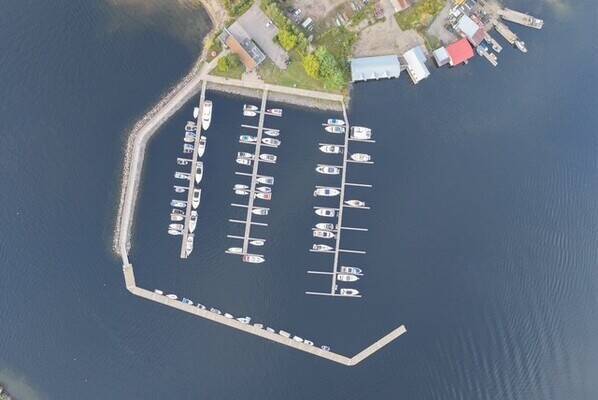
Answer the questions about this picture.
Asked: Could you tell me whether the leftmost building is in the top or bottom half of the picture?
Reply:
top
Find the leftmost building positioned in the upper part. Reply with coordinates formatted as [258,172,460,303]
[219,30,266,71]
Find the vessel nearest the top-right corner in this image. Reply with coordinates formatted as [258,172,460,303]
[533,16,545,29]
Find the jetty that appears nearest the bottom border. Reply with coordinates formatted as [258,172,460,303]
[121,249,408,367]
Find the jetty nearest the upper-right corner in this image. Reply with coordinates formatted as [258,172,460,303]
[502,8,534,27]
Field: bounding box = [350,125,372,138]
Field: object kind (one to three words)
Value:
boat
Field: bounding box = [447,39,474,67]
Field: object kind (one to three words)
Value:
building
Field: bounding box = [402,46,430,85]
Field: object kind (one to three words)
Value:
building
